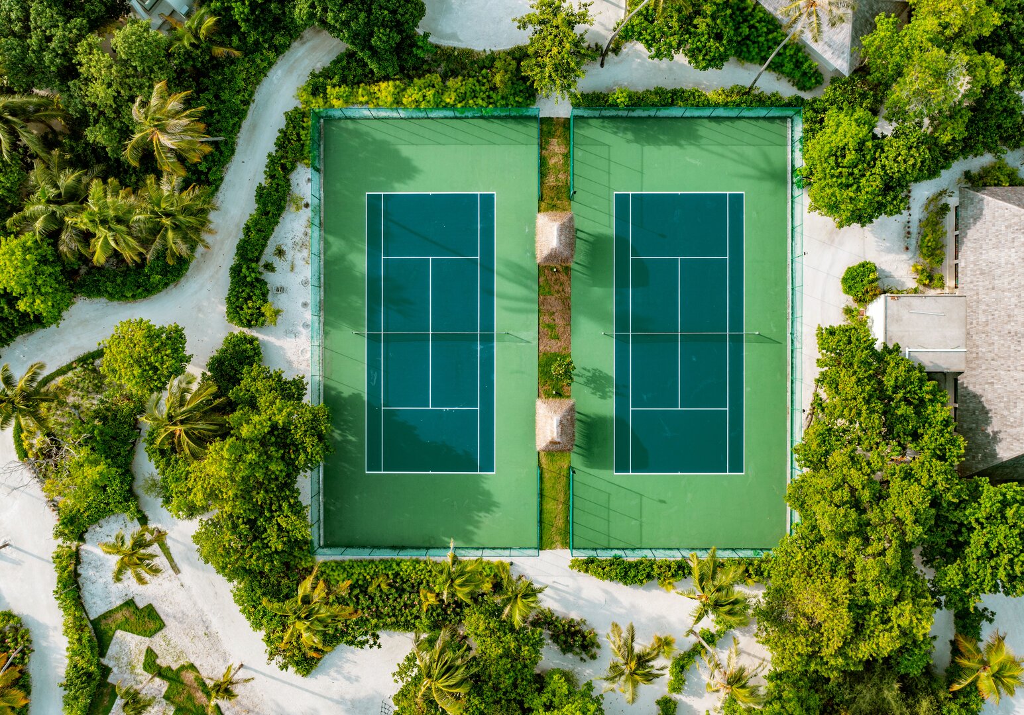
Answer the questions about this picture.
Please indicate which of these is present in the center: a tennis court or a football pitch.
tennis court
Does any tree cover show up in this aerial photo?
Yes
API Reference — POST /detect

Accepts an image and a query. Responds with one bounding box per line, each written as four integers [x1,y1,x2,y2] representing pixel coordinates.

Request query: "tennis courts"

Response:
[321,118,539,549]
[572,118,791,549]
